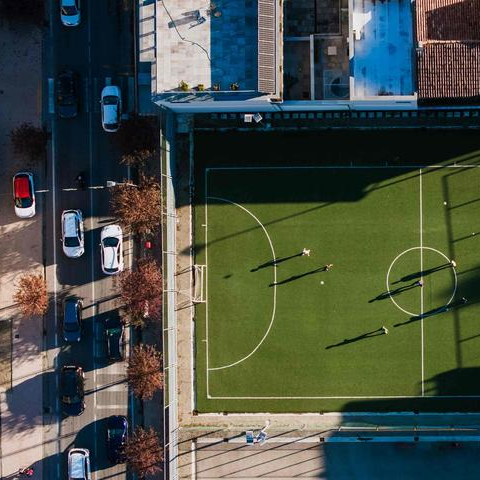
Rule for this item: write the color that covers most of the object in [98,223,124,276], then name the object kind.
white car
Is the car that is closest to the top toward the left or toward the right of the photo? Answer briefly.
left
